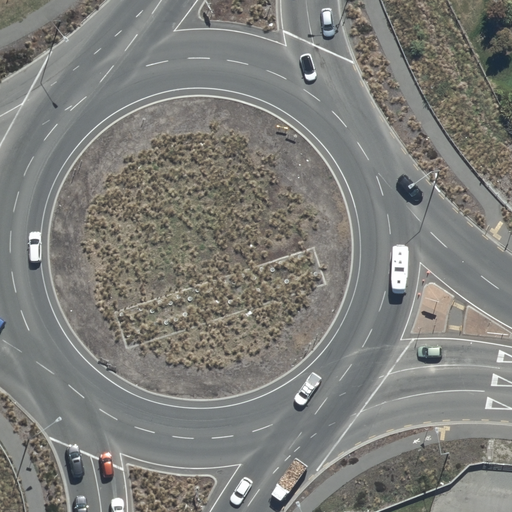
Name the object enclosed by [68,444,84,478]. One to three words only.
car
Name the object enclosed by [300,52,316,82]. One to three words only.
car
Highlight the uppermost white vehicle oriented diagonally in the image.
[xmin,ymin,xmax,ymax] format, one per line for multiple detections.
[295,372,322,406]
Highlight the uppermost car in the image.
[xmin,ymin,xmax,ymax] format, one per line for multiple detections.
[320,8,335,38]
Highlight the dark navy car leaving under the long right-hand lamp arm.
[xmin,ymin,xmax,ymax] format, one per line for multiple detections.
[396,172,422,204]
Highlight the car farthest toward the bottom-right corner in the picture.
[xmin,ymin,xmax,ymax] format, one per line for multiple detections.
[417,344,442,358]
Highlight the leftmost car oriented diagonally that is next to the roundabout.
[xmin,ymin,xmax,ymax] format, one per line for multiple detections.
[229,476,254,506]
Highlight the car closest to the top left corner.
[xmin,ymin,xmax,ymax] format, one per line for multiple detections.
[28,232,42,262]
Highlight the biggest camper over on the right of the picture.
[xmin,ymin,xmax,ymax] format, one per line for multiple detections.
[390,243,408,294]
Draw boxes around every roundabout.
[0,29,420,467]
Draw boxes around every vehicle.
[270,458,308,503]
[396,172,422,204]
[110,498,125,512]
[390,243,408,294]
[295,372,322,406]
[320,8,335,38]
[229,476,254,506]
[99,452,114,478]
[68,444,84,478]
[28,232,42,262]
[300,52,316,82]
[417,344,442,358]
[74,496,88,512]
